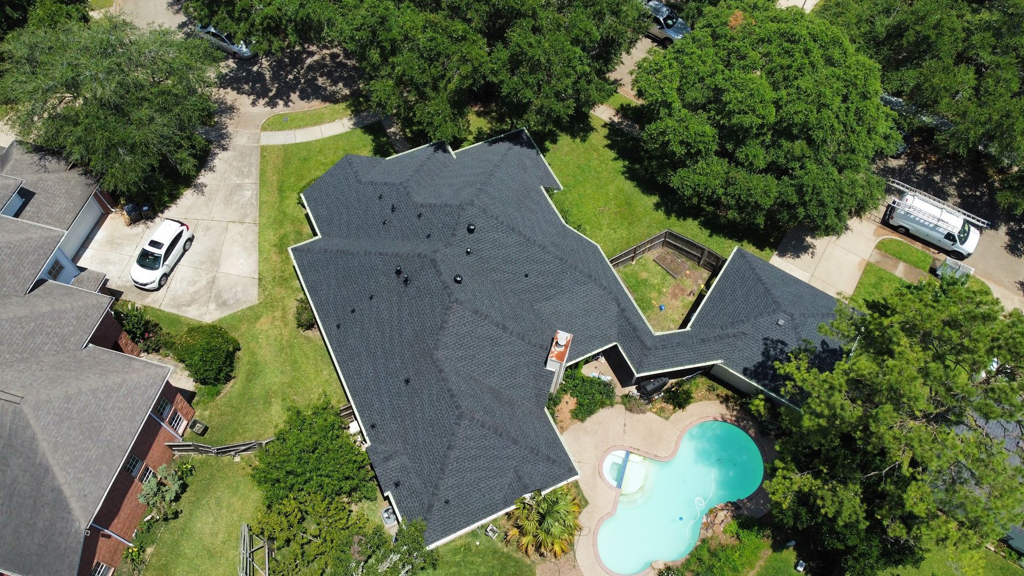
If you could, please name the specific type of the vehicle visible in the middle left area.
automobile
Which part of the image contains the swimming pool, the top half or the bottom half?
bottom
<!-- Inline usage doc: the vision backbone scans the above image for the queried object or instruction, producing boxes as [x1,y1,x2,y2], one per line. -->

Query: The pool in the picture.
[591,415,770,576]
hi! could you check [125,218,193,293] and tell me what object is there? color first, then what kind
white car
